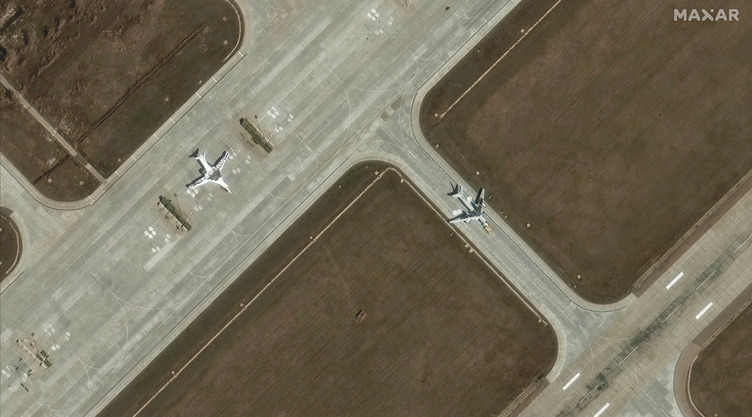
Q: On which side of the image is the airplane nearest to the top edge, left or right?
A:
left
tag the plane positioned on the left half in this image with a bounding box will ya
[189,152,233,194]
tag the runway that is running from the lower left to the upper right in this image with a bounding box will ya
[514,187,752,417]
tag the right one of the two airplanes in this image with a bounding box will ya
[449,188,489,225]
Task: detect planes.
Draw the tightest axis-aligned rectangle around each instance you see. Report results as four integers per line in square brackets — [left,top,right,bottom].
[189,152,233,194]
[449,188,489,225]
